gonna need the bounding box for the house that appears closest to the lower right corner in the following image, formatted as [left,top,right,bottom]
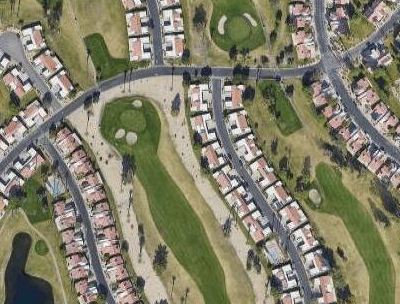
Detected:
[312,277,340,304]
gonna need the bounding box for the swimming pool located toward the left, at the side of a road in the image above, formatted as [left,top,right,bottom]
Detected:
[45,174,67,197]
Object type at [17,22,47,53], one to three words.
house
